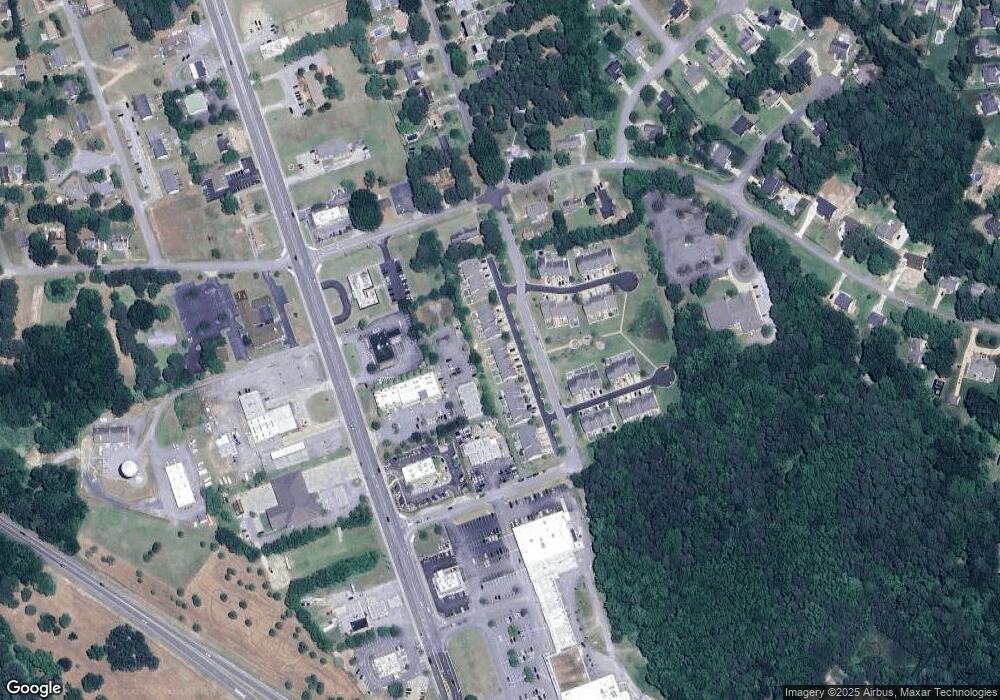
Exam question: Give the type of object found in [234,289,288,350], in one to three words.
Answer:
building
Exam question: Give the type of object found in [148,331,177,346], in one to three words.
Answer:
barn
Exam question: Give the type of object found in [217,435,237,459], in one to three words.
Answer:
shed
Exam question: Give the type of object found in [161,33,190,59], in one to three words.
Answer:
house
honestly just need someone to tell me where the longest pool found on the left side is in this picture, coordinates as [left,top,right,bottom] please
[369,24,389,38]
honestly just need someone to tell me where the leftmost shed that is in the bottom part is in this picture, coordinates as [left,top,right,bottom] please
[93,427,129,442]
